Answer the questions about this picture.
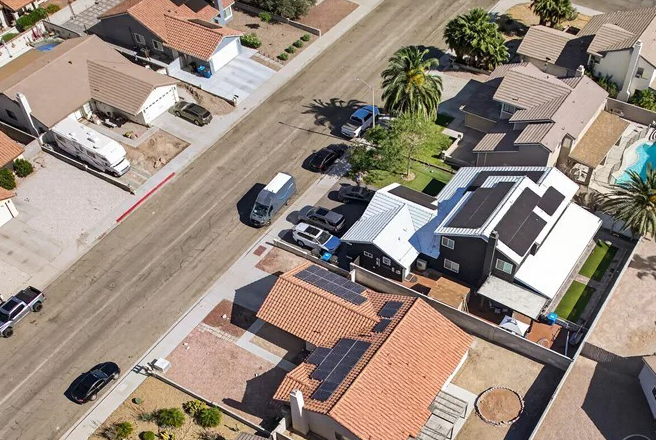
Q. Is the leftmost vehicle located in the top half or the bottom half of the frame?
bottom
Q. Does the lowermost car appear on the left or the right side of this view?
left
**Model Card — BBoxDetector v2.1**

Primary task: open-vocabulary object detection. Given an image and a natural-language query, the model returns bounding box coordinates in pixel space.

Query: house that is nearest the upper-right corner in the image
[516,5,656,104]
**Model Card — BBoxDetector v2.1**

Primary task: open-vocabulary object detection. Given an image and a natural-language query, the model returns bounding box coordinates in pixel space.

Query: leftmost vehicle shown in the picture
[0,286,47,342]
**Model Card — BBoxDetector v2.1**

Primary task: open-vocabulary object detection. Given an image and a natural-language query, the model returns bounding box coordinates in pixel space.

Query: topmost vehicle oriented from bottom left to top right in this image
[340,99,382,137]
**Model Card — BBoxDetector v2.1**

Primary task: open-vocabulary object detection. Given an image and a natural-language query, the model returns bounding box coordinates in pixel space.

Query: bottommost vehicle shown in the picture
[65,358,122,407]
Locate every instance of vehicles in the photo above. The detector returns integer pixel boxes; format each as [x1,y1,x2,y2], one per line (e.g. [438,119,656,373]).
[309,201,360,233]
[340,99,382,137]
[336,179,378,206]
[49,114,136,178]
[65,358,122,407]
[0,286,47,342]
[308,140,345,171]
[294,217,345,252]
[243,168,296,227]
[168,99,214,126]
